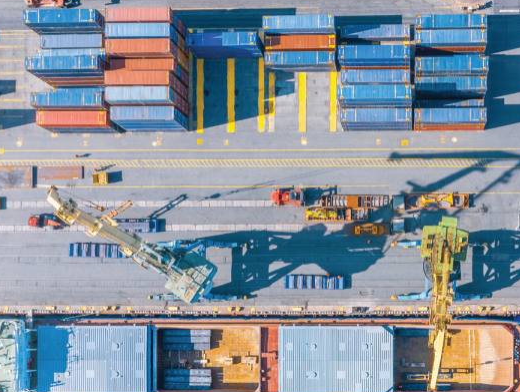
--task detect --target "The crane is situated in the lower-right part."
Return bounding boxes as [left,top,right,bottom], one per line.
[389,211,491,392]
